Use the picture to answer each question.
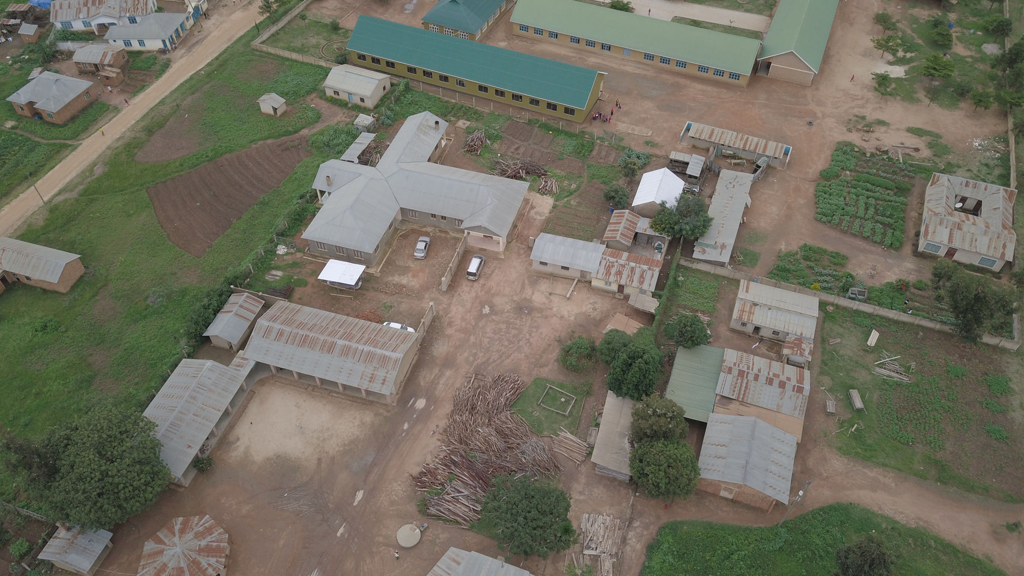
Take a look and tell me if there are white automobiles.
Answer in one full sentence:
Yes, a white automobile appears in the view.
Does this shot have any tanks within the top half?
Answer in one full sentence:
No, within the top half there is no tank.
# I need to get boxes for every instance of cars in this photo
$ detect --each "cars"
[327,281,362,293]
[384,321,417,333]
[466,255,486,281]
[413,236,431,260]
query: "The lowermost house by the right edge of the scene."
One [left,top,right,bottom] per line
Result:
[919,170,1012,272]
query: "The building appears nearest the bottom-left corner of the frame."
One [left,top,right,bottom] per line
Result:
[42,521,123,576]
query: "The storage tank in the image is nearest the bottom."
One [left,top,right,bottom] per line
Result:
[394,522,423,552]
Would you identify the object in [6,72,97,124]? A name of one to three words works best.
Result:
house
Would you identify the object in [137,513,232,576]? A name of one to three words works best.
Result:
gazebo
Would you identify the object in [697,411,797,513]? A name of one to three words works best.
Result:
building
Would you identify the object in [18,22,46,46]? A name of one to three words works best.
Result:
shed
